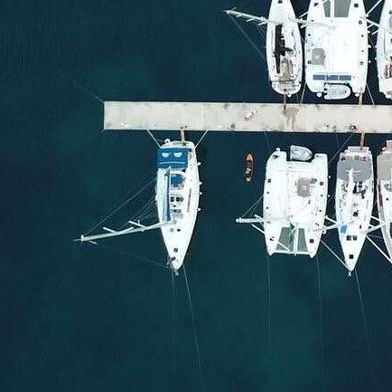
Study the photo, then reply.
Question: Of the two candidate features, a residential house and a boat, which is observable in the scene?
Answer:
boat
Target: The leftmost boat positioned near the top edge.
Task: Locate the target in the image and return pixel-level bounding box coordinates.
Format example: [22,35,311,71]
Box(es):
[222,0,305,99]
